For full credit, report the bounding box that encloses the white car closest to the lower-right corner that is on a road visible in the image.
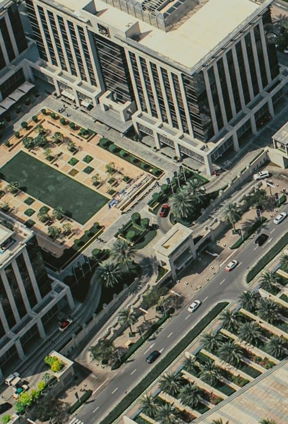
[186,299,203,315]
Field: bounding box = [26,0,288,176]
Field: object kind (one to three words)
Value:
building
